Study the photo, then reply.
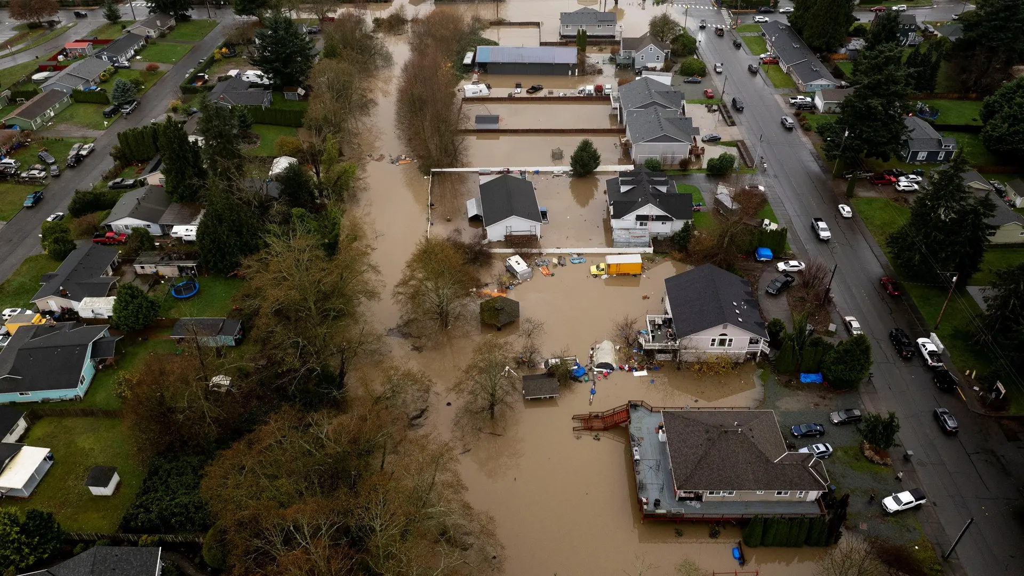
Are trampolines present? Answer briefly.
Yes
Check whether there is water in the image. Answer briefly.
Yes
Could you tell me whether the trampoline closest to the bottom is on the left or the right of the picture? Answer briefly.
left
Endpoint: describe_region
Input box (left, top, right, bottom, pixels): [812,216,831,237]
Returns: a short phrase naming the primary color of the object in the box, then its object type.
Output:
white vehicle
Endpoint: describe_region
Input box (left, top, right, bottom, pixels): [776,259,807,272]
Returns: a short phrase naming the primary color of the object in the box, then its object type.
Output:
white vehicle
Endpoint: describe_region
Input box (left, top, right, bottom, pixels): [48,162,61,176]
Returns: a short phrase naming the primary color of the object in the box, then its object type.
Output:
gray vehicle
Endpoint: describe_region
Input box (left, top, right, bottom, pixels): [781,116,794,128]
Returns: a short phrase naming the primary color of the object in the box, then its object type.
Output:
gray vehicle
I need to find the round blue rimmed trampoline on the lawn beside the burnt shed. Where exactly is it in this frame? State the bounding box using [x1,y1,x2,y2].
[167,273,199,299]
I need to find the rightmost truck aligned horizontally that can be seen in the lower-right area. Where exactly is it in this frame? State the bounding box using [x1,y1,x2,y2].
[879,484,933,513]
